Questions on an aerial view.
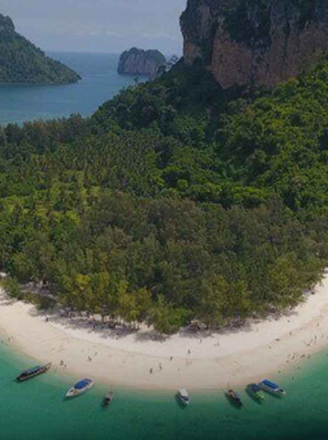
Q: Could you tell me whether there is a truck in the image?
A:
No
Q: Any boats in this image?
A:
Yes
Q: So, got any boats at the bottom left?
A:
Yes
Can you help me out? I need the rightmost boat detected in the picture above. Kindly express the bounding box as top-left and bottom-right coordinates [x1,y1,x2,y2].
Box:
[258,374,286,394]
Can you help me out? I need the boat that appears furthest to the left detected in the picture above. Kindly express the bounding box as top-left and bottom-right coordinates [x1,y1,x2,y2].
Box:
[8,357,50,384]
